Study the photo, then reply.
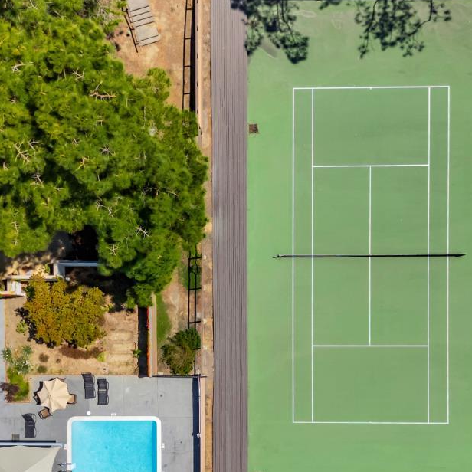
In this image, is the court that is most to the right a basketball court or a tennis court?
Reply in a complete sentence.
From above, the court that is most to the right can be identified as a tennis court.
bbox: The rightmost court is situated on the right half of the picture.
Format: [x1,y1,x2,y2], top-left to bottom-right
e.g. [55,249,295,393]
[293,85,450,425]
